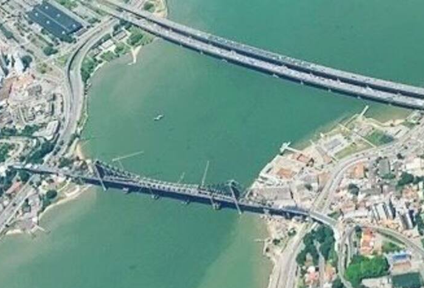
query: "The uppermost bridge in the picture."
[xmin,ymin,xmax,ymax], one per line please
[80,0,424,113]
